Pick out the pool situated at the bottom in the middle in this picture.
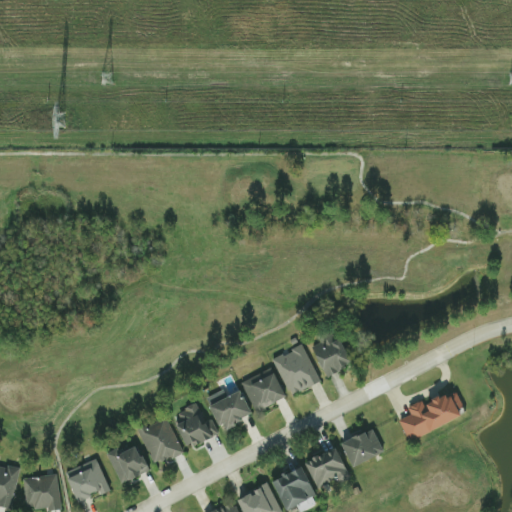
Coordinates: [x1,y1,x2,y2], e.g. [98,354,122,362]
[218,376,240,398]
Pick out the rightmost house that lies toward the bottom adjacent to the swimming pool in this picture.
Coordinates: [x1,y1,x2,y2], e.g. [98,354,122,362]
[243,368,286,413]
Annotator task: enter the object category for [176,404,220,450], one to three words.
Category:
house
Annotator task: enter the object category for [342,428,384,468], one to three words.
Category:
house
